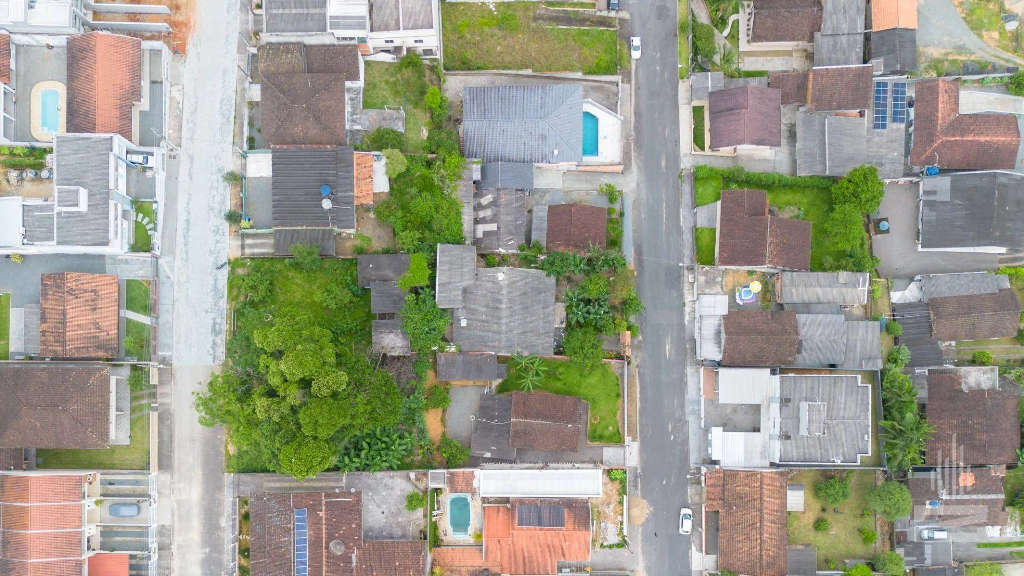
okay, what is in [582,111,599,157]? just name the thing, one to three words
swimming pool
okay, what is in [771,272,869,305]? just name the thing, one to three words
house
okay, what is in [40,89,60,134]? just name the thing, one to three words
swimming pool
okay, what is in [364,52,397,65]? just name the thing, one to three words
shed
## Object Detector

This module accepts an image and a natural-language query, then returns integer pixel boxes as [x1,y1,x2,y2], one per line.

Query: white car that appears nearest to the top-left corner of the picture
[132,154,155,166]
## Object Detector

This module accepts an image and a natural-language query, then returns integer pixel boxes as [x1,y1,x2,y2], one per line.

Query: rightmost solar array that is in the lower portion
[518,506,564,527]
